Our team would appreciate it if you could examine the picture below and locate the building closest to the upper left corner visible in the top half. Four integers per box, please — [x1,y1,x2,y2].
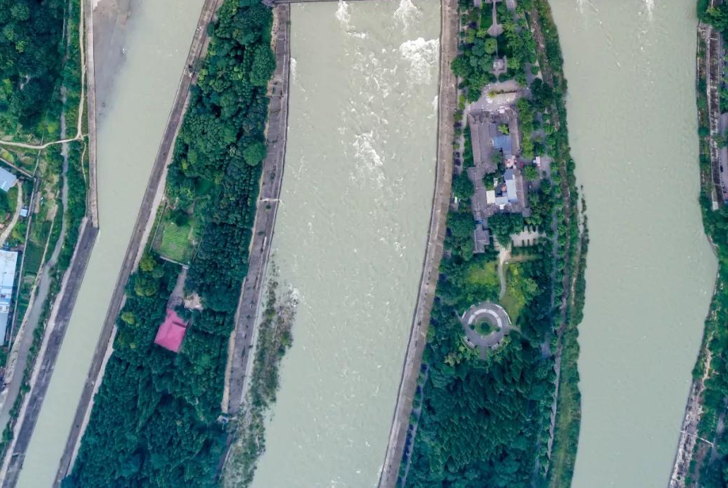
[0,163,19,193]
